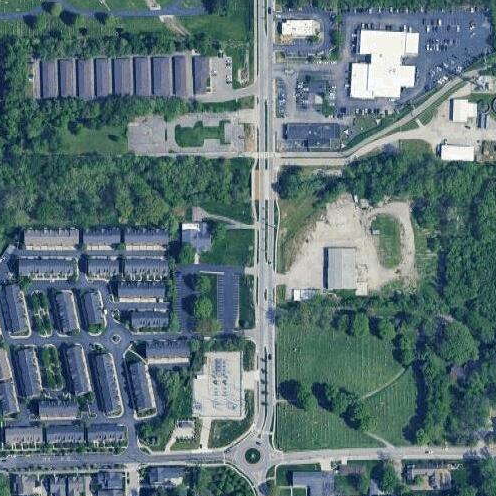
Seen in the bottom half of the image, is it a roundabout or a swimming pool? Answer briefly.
roundabout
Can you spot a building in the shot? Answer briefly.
Yes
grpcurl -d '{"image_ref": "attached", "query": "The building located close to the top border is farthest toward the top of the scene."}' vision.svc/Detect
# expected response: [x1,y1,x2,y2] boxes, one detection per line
[282,20,314,37]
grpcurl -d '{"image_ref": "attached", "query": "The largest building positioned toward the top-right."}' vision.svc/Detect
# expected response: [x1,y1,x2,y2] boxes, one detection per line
[351,29,419,98]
